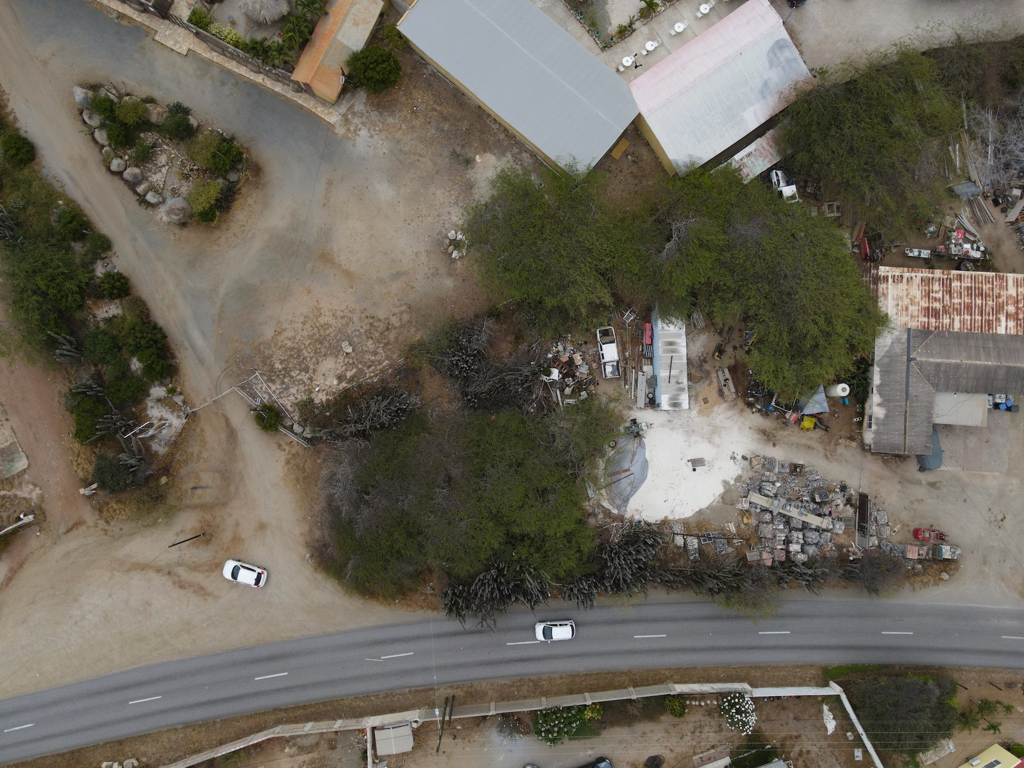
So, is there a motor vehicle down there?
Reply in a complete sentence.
Yes, the frame does contain a motor vehicle.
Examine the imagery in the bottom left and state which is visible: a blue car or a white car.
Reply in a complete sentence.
There is a white car in the bottom left.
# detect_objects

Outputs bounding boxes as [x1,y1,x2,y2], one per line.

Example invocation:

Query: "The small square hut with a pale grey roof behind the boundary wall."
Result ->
[375,721,416,756]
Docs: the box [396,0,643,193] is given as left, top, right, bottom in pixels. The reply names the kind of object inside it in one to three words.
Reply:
warehouse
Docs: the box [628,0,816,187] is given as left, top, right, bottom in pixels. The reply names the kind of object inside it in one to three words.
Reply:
building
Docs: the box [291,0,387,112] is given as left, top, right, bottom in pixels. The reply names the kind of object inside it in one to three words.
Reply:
shed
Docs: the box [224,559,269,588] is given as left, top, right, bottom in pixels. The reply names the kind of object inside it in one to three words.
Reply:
car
